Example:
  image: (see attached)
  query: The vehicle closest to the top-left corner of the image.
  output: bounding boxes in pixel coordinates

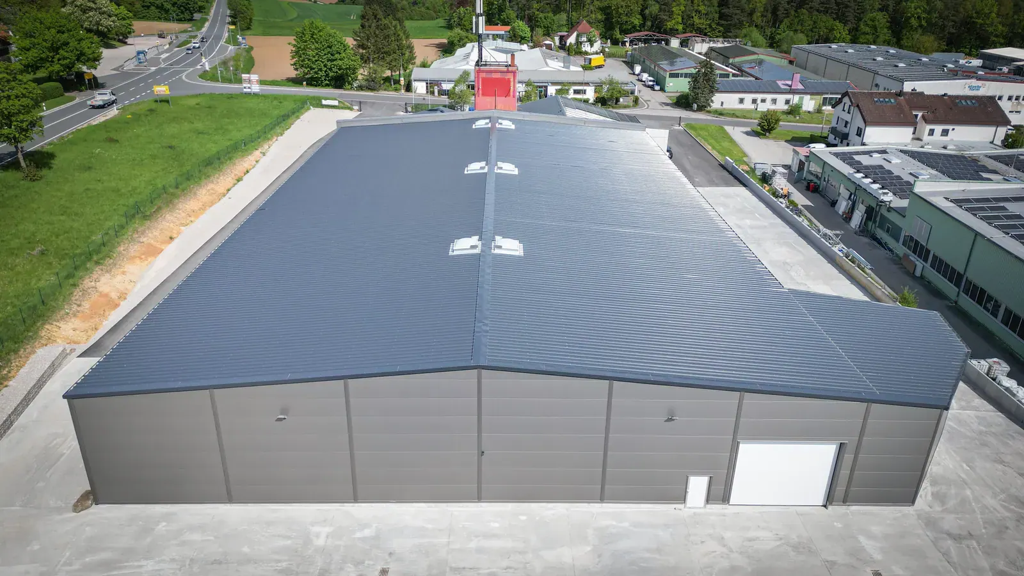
[88,89,115,106]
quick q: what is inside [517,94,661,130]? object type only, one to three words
building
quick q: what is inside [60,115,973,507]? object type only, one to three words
building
